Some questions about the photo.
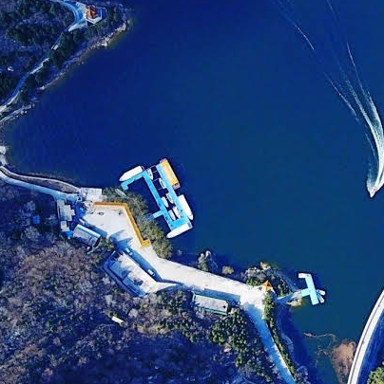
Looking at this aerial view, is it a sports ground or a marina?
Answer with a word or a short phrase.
marina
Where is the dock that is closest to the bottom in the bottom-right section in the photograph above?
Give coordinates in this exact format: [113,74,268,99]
[277,273,319,304]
